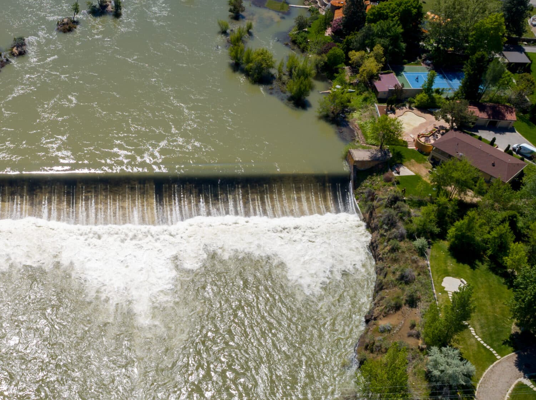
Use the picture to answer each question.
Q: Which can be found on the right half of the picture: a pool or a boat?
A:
pool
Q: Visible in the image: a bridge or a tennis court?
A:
tennis court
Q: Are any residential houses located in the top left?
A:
No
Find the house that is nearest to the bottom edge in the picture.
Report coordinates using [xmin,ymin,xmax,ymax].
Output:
[426,129,525,186]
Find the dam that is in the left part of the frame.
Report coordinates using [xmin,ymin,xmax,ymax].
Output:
[0,178,358,226]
